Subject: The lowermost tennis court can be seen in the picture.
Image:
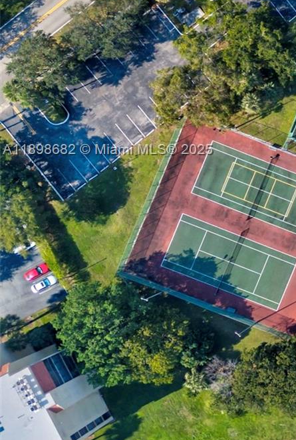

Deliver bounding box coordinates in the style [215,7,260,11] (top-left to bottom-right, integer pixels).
[125,193,296,329]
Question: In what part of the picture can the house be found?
bottom left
